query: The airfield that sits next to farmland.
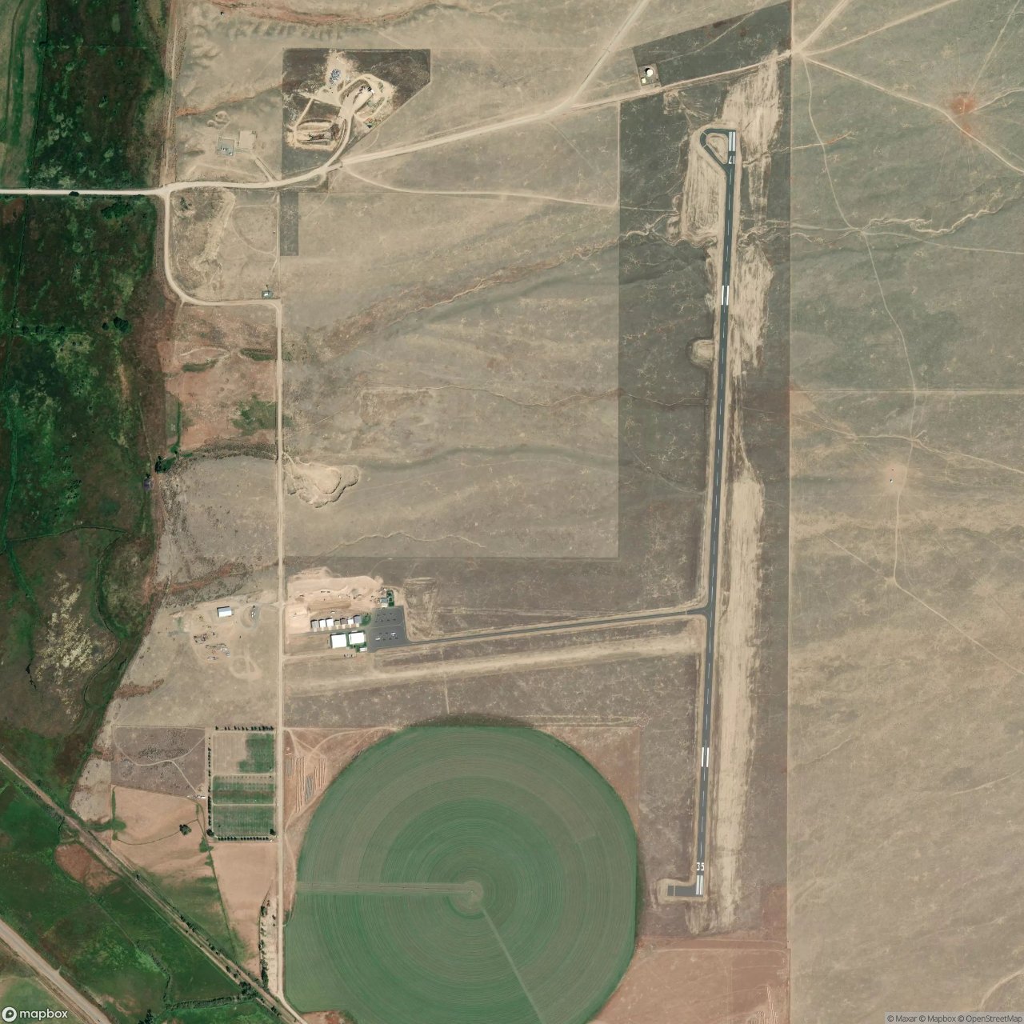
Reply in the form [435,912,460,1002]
[367,129,736,897]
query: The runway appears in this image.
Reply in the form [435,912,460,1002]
[696,130,736,897]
